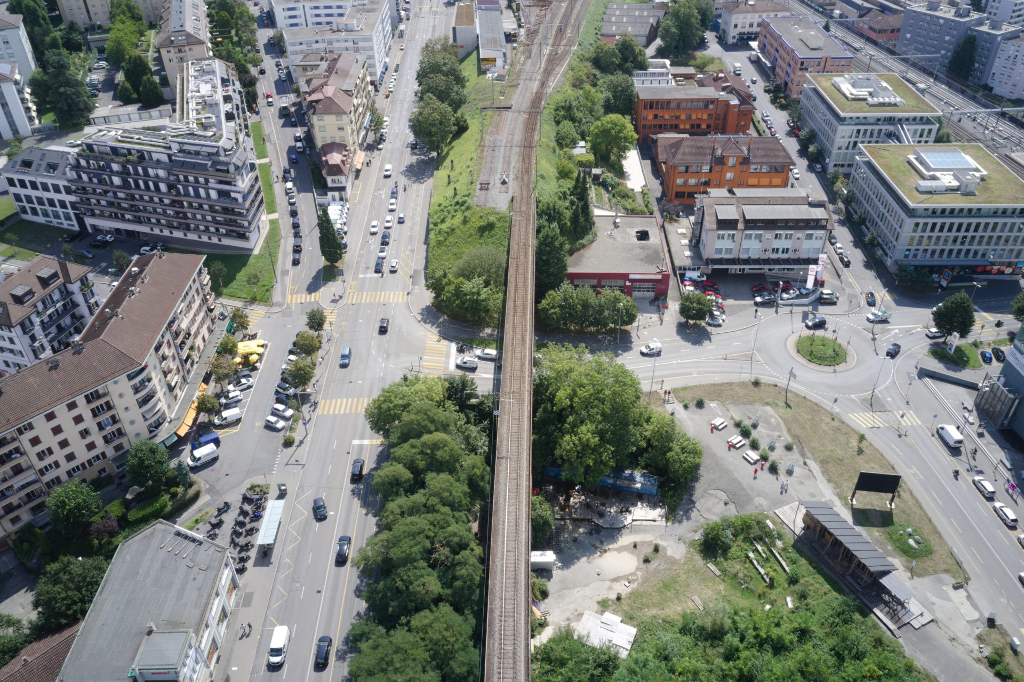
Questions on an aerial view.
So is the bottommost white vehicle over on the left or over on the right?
left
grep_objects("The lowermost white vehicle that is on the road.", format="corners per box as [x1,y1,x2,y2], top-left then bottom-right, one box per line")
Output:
[264,620,290,667]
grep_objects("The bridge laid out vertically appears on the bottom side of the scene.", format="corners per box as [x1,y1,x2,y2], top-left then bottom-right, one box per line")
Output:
[479,200,537,682]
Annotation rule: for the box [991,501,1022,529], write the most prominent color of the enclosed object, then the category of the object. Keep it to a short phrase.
white car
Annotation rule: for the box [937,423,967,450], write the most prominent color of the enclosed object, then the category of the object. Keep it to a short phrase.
white vehicle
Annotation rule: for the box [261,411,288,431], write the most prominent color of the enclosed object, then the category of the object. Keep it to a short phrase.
white car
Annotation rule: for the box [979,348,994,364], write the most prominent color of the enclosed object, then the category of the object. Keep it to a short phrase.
blue car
